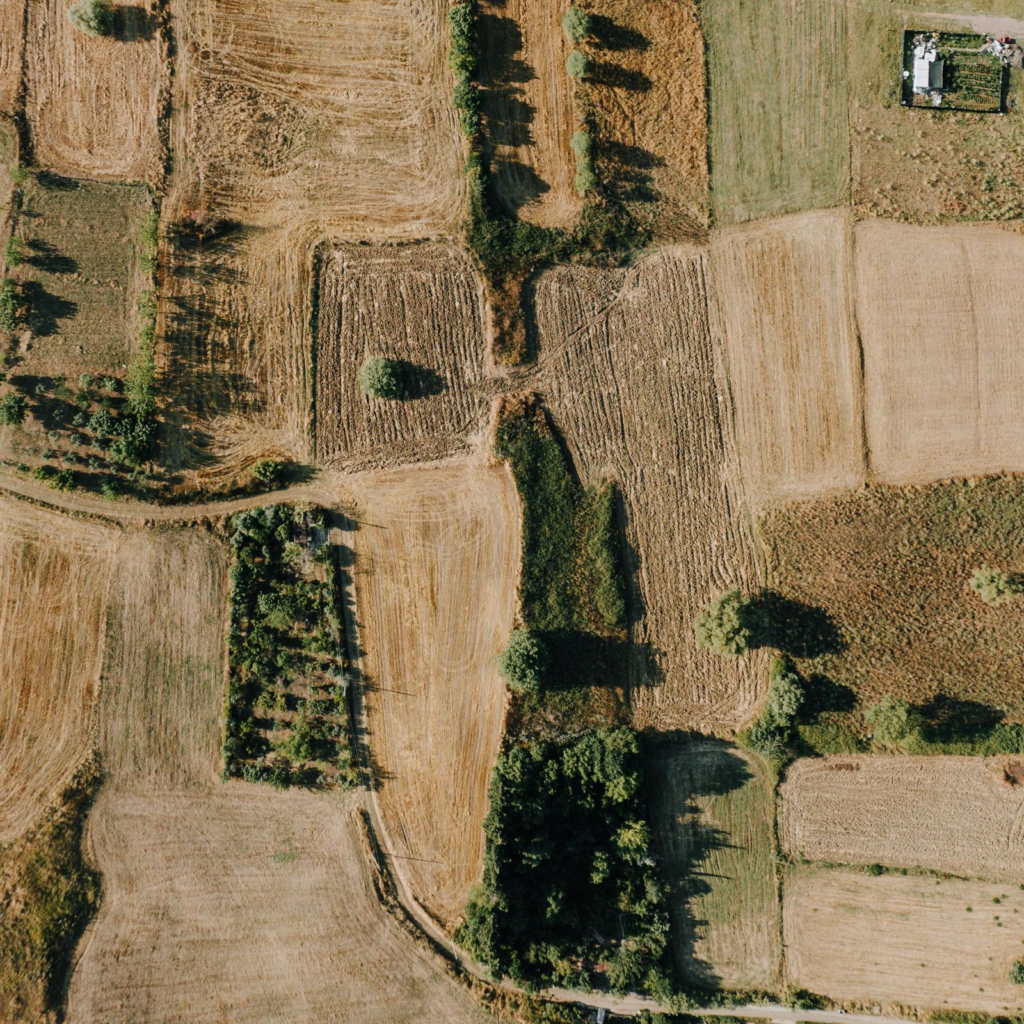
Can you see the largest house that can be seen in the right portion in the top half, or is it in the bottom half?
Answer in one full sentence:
Seen from above, the largest house that can be seen in the right portion lies in the top half of the view.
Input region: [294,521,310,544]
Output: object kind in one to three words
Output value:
shed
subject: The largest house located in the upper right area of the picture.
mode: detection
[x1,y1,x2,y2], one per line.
[912,60,941,92]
